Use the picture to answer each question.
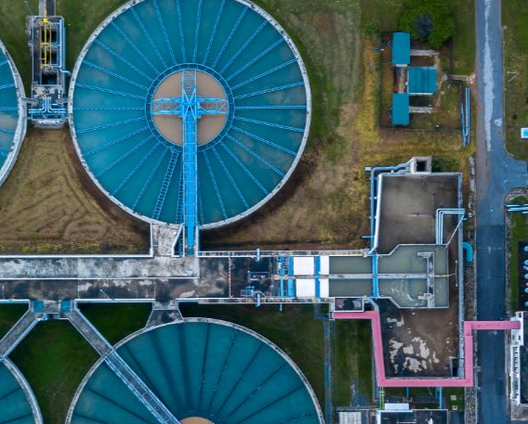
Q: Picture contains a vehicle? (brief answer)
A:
No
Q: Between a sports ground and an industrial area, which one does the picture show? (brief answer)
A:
industrial area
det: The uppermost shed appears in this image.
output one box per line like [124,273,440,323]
[392,32,409,66]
